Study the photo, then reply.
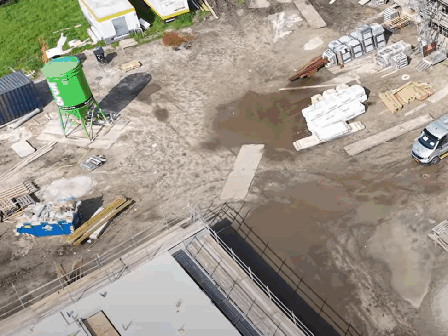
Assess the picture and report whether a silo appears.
Yes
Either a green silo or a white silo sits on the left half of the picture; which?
green silo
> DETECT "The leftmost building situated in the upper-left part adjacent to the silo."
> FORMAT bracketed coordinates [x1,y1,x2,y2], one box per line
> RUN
[63,0,142,47]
